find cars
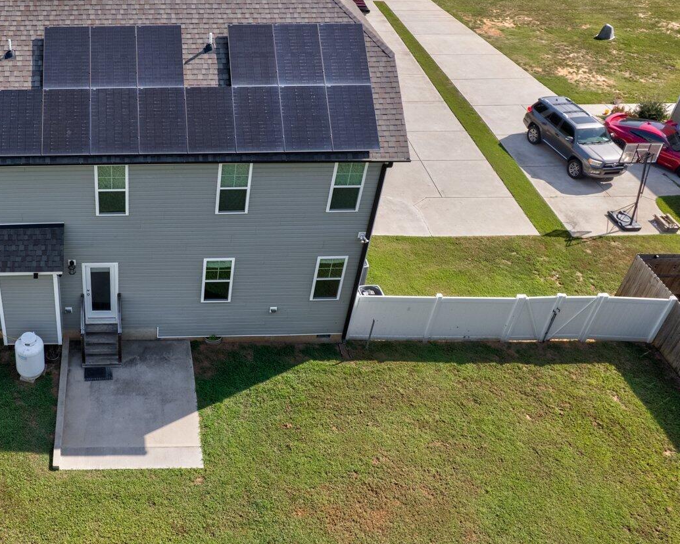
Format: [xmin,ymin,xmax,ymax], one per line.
[607,107,680,169]
[525,96,635,185]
